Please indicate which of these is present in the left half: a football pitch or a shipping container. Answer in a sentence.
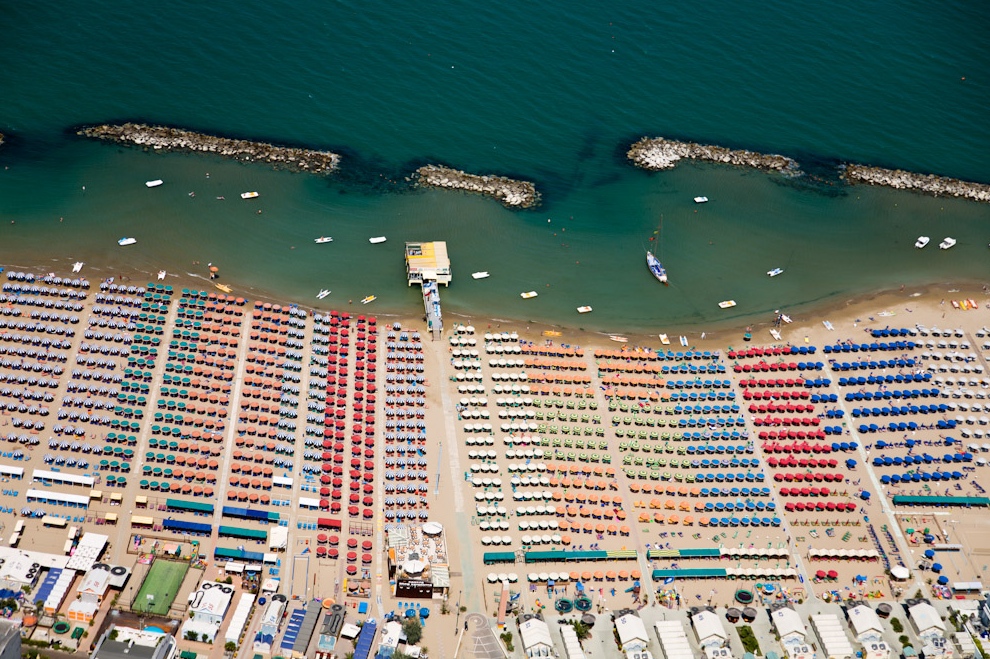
There is a football pitch in the left half.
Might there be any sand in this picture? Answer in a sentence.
Yes, some sand is visible.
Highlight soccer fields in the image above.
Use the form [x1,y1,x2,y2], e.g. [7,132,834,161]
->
[131,548,189,615]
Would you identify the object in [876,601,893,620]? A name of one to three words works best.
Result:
umbrella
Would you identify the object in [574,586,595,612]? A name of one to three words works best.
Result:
trampoline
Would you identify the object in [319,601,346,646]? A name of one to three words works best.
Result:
house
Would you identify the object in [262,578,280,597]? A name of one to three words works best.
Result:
gazebo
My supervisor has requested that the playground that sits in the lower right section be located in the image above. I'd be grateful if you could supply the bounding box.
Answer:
[755,581,788,604]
